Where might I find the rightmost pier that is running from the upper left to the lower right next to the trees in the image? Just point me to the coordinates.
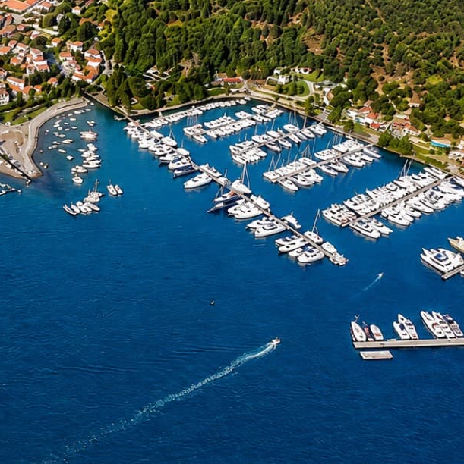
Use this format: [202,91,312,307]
[115,108,347,262]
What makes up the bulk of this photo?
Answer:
water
